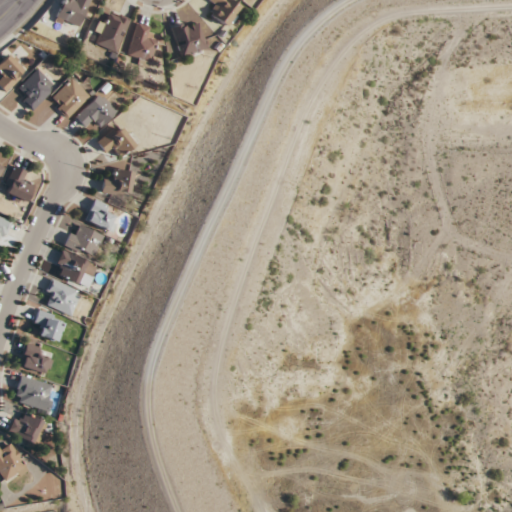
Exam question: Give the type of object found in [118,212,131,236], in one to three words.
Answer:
swimming pool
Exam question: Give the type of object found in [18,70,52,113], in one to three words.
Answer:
house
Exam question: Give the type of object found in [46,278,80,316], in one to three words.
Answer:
house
